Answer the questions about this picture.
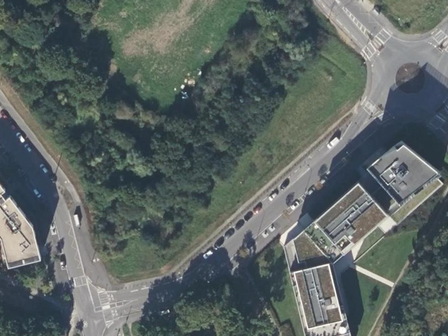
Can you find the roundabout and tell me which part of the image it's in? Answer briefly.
top right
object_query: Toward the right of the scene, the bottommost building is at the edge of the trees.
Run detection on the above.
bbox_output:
[284,224,352,336]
